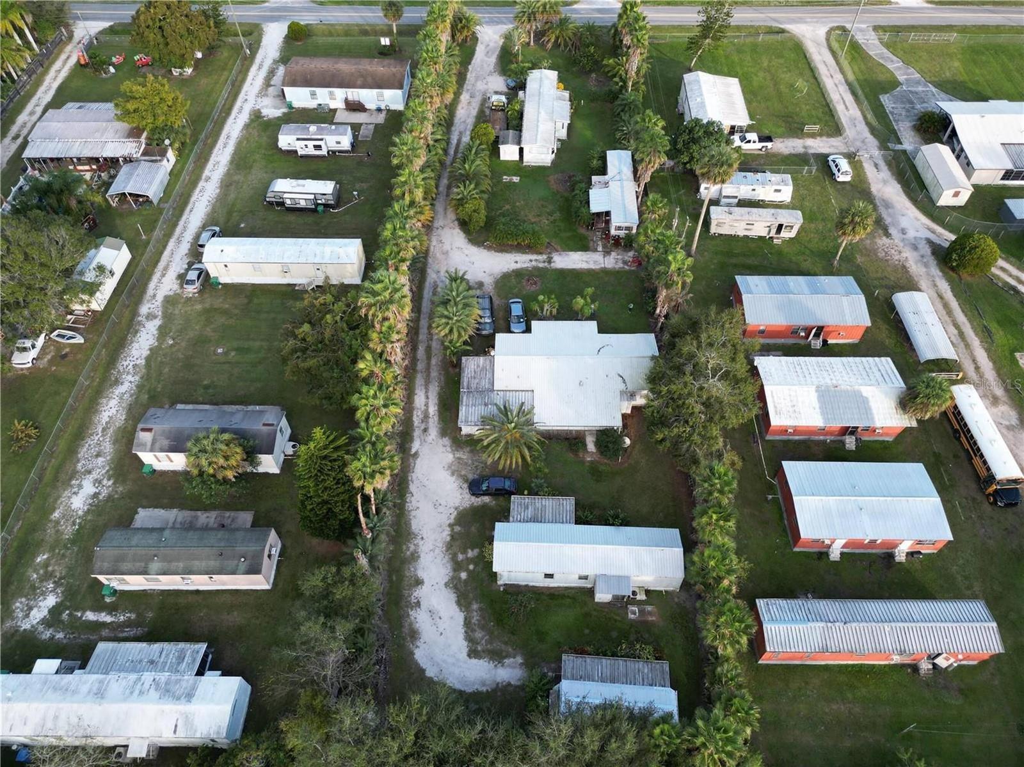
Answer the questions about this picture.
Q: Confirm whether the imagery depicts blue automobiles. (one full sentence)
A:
Yes, this view includes a blue automobile.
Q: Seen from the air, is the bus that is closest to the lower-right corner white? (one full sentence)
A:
Yes, the bus that is closest to the lower-right corner is indeed white.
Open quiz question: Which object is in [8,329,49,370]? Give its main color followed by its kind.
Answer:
white truck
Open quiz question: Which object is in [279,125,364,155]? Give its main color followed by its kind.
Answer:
white trailer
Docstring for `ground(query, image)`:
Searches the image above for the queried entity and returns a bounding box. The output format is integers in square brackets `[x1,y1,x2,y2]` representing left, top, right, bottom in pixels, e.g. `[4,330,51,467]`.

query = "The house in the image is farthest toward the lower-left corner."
[0,642,247,760]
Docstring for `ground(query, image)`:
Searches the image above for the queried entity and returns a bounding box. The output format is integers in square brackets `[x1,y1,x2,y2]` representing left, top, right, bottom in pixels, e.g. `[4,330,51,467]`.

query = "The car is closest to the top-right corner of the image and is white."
[830,155,854,180]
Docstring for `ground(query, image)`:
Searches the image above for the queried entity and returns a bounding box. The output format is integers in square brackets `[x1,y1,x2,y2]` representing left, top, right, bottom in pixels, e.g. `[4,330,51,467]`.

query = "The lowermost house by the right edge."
[749,599,1003,667]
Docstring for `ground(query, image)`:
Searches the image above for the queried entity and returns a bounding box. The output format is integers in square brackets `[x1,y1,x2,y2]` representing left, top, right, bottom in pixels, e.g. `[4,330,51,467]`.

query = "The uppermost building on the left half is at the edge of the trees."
[282,57,410,109]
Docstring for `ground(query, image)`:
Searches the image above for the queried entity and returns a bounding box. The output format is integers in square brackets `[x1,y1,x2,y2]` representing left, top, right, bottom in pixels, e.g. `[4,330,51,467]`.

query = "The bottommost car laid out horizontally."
[468,474,518,497]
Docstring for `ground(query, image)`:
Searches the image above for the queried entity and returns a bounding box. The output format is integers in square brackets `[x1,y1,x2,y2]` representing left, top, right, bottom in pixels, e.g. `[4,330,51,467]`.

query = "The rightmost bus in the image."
[949,387,1024,501]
